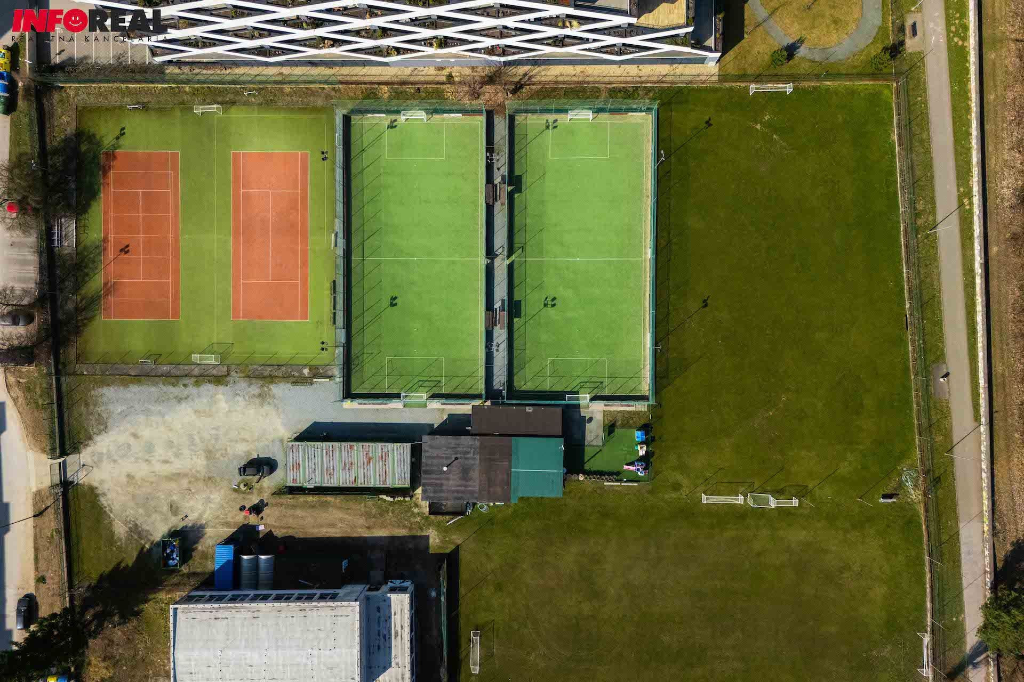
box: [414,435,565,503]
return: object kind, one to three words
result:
building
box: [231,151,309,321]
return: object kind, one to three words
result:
tennis court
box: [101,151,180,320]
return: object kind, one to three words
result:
tennis court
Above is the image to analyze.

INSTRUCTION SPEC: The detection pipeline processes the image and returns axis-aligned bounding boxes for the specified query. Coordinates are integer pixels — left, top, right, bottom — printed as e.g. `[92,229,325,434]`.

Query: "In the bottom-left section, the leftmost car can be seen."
[9,597,30,631]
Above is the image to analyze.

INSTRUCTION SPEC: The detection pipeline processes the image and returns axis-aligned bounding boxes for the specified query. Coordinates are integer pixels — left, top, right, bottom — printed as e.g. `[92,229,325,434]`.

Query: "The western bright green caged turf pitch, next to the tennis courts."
[345,113,482,399]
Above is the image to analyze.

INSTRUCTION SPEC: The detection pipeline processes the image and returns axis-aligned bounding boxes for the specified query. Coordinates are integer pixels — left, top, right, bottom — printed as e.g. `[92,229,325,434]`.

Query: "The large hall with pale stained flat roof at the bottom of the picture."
[171,574,416,682]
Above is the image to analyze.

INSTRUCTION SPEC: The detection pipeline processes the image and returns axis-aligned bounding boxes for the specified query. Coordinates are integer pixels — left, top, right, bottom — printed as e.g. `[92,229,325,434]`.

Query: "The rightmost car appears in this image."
[239,464,271,485]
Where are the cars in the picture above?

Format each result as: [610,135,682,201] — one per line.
[9,597,30,631]
[239,464,271,485]
[5,200,32,215]
[0,309,31,325]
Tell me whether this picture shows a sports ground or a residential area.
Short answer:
sports ground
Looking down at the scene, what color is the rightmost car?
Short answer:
black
